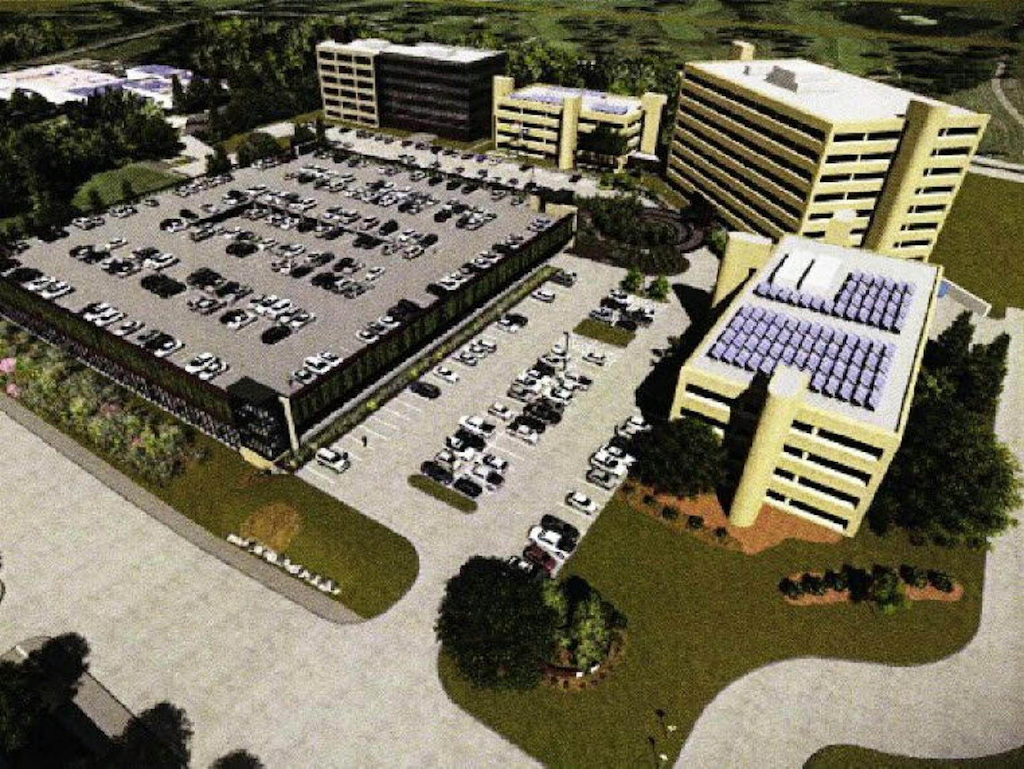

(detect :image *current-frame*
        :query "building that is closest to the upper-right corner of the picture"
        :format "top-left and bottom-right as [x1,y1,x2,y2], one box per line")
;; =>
[666,39,988,258]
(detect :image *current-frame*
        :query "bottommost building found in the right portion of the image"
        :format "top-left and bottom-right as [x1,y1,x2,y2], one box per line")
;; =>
[665,226,943,531]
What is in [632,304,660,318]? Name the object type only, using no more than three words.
car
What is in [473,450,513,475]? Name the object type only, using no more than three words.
car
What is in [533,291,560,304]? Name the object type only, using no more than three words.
vehicle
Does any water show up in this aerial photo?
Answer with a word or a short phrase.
No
